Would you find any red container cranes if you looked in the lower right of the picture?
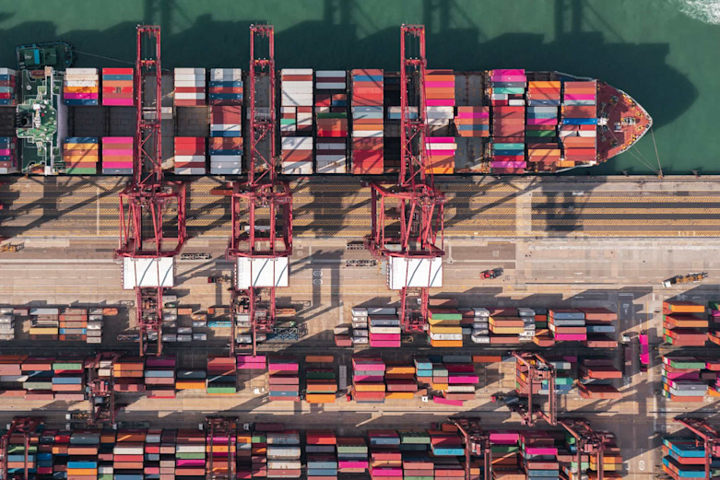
Yes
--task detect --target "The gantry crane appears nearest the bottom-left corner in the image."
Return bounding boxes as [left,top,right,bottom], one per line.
[0,416,41,480]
